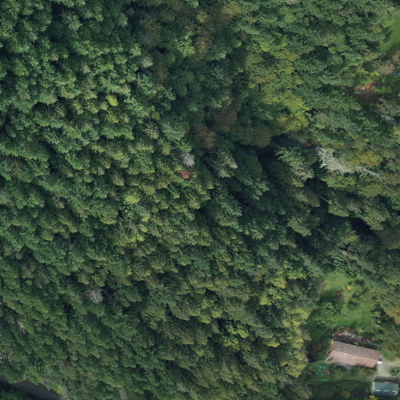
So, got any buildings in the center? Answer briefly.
No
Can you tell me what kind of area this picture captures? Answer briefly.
forest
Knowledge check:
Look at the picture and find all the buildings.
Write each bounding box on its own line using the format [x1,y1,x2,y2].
[326,339,380,368]
[368,378,399,397]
